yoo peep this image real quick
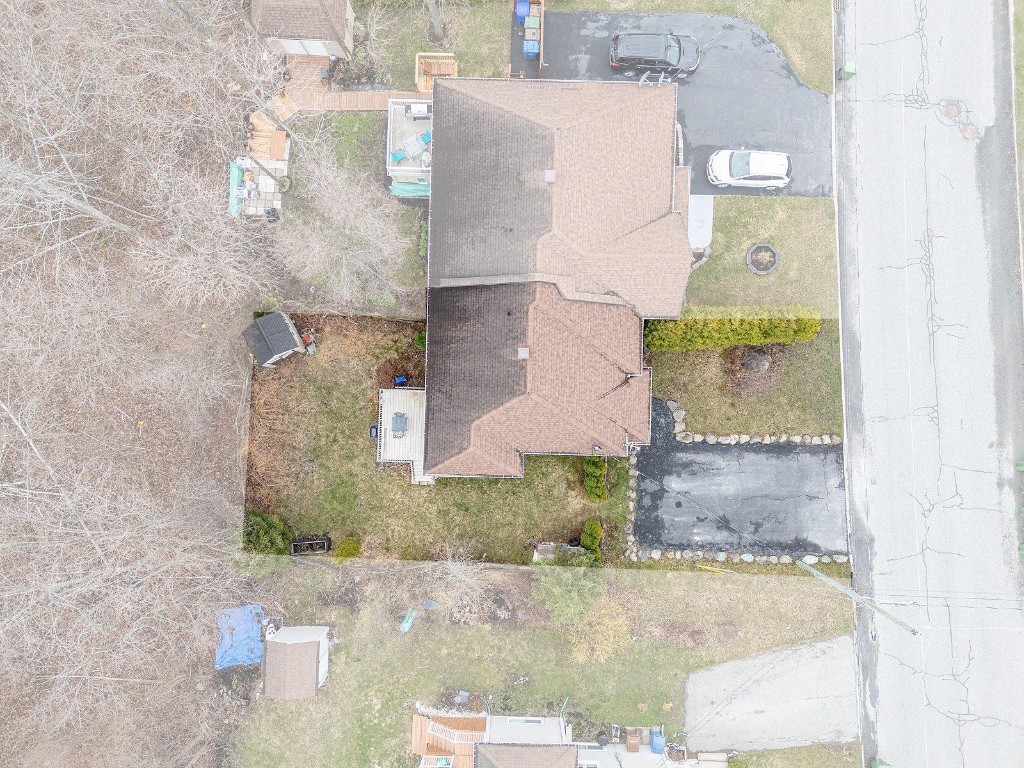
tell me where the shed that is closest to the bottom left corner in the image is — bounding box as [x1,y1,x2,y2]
[263,626,329,699]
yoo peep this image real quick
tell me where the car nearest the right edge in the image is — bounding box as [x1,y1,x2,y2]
[706,143,796,190]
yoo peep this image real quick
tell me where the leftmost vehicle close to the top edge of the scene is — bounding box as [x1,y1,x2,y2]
[609,28,699,79]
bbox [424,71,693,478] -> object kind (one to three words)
house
